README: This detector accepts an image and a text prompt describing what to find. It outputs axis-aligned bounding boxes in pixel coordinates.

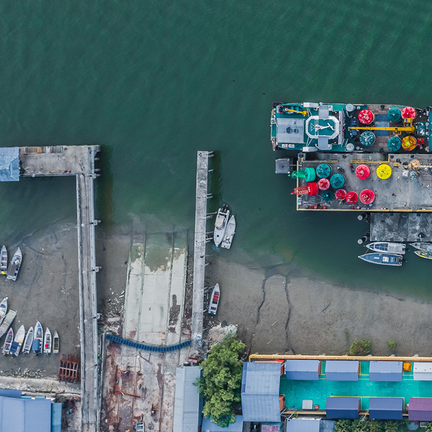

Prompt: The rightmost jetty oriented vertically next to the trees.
[192,151,216,350]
